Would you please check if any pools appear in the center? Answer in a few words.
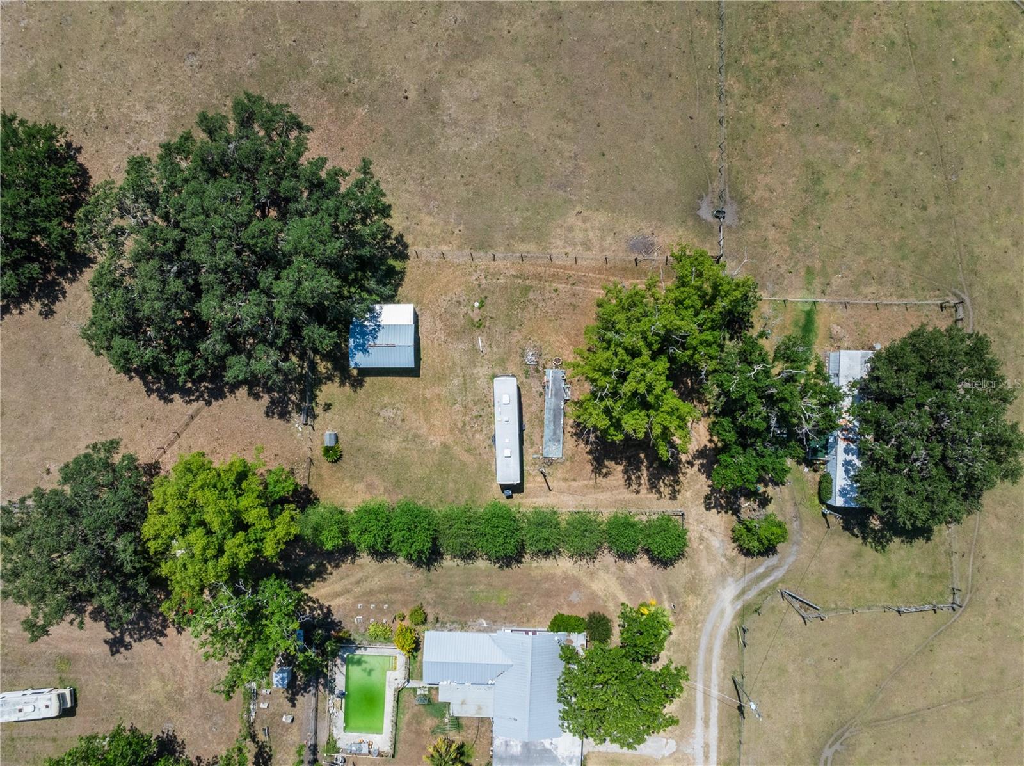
No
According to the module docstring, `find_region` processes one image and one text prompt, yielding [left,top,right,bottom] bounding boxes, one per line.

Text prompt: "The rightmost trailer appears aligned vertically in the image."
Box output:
[542,370,566,458]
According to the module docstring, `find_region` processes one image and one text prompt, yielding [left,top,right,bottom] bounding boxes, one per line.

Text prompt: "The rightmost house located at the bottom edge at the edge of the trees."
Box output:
[423,622,566,742]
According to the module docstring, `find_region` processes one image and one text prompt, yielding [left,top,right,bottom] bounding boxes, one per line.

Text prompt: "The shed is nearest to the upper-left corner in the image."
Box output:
[350,304,416,367]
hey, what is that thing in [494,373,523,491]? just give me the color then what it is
white trailer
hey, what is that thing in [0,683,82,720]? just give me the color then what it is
white camper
